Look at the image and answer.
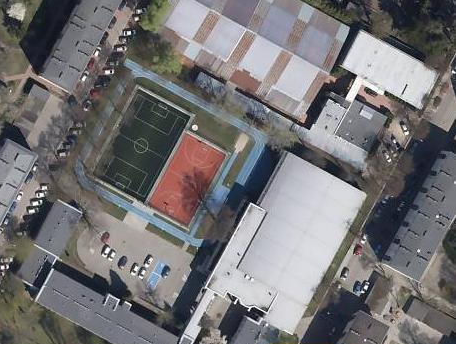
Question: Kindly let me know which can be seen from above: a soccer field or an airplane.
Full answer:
This aerial view contains a soccer field.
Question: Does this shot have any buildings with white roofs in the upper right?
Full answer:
Yes, there is a building with a white roof in the upper right.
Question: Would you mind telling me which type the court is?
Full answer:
The court appears to be a basketball court.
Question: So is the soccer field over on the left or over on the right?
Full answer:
The soccer field appears in the left half of the scene.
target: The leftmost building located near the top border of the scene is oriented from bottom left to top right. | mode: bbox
[40,0,121,93]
